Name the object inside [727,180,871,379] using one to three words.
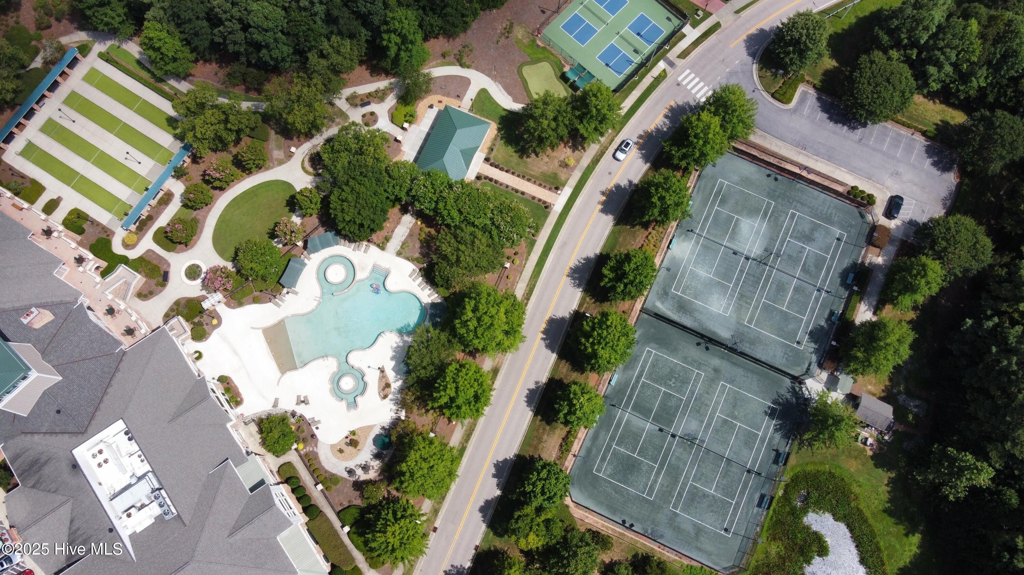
tennis court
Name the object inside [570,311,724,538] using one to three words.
tennis court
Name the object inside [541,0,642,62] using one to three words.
sports court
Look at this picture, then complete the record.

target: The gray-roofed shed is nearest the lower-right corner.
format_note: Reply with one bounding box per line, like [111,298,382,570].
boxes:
[854,393,893,432]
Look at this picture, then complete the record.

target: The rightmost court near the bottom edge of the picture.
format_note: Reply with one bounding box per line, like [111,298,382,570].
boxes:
[648,349,804,575]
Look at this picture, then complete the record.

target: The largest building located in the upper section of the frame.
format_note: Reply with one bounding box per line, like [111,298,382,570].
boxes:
[416,104,491,181]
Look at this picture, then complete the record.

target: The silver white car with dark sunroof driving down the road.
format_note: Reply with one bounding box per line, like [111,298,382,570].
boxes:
[614,136,634,160]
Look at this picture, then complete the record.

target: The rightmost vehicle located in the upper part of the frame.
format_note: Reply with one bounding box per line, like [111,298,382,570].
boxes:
[889,198,906,224]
